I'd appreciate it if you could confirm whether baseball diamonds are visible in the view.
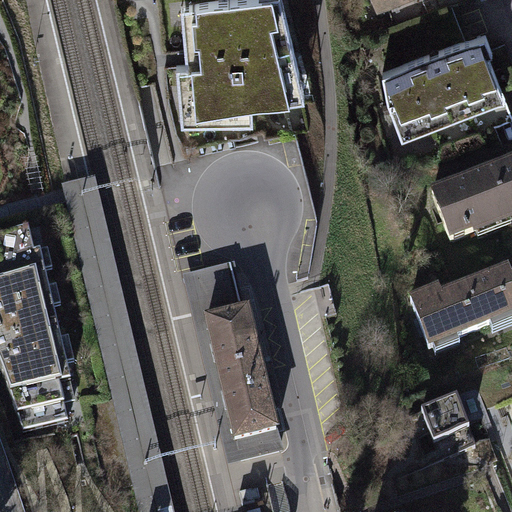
No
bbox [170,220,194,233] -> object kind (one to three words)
vehicle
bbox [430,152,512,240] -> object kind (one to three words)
house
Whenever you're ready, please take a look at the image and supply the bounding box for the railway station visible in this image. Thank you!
[26,0,298,512]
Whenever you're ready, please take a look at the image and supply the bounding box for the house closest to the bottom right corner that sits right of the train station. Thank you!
[419,390,476,457]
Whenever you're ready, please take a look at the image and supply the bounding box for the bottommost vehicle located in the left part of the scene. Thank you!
[177,243,200,255]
